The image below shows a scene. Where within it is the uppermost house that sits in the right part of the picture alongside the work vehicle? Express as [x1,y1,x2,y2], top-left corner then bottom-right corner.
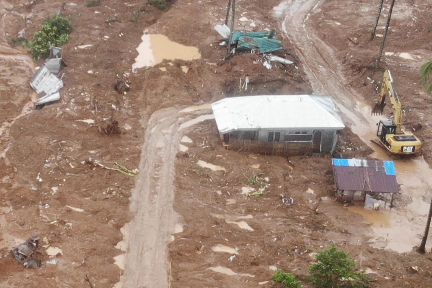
[211,94,345,155]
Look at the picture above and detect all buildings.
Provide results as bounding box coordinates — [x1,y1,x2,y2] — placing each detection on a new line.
[211,94,345,155]
[30,47,67,106]
[331,159,398,209]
